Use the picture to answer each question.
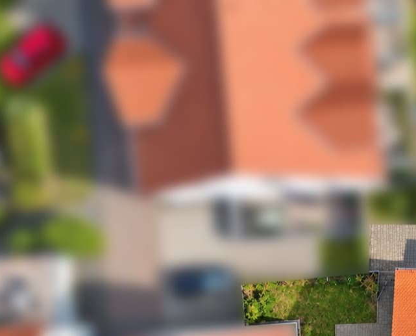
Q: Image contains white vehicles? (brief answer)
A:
No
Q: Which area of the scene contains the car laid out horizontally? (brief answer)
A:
bottom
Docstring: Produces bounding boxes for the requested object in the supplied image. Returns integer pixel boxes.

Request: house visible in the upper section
[101,0,388,200]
